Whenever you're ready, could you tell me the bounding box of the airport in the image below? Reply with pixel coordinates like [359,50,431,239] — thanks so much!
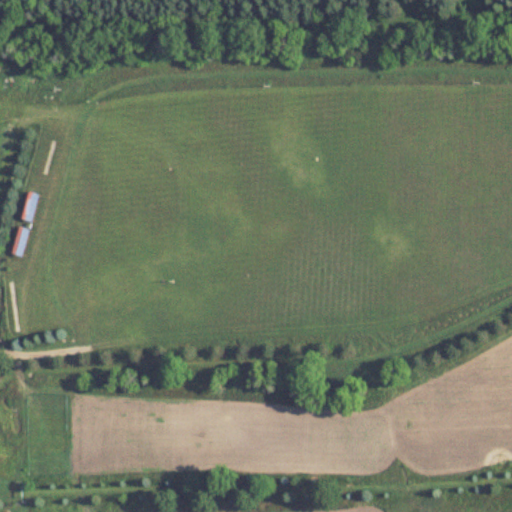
[7,84,512,346]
